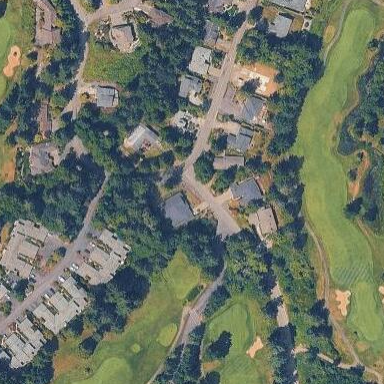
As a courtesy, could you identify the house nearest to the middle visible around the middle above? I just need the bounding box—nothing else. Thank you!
[162,192,196,227]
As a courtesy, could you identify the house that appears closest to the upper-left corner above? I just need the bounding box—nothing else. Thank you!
[31,0,62,44]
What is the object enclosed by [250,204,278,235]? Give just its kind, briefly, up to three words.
house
